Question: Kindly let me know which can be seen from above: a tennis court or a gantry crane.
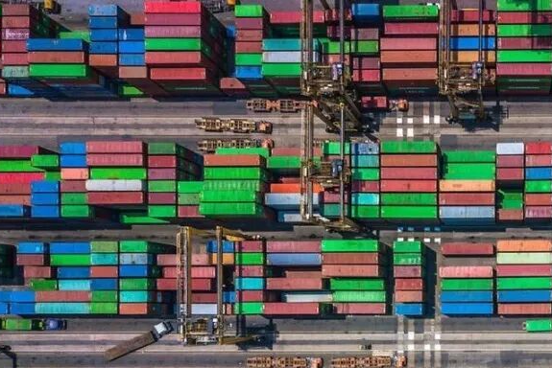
gantry crane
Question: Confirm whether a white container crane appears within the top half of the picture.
No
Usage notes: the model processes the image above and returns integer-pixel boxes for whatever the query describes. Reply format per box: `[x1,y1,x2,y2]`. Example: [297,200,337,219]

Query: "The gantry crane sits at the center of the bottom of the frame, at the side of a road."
[174,219,265,352]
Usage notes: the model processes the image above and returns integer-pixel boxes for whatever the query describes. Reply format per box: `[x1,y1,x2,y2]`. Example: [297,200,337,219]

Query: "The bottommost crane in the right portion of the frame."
[298,99,372,238]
